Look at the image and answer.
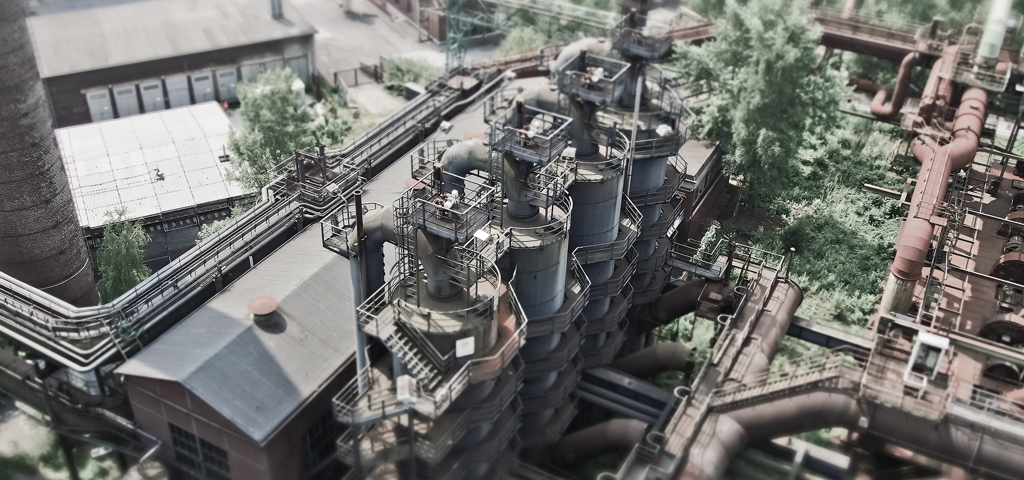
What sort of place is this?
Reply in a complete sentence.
This image shows an industrial area.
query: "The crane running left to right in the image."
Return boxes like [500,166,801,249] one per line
[442,0,649,69]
